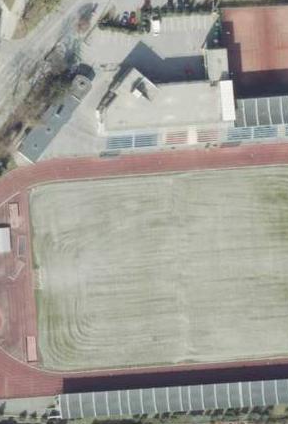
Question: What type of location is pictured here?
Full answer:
The picture captures a sports ground.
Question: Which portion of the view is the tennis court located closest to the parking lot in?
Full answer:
The tennis court located closest to the parking lot appears toward the top right of the photo.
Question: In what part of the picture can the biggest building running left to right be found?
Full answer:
The biggest building running left to right appears toward the top of the photo.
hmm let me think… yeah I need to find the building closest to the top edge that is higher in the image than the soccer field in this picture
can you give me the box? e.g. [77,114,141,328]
[197,48,229,80]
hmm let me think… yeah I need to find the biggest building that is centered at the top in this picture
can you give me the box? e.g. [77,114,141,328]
[88,67,220,131]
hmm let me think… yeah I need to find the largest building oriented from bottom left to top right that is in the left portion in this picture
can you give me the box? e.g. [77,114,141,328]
[14,95,79,163]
